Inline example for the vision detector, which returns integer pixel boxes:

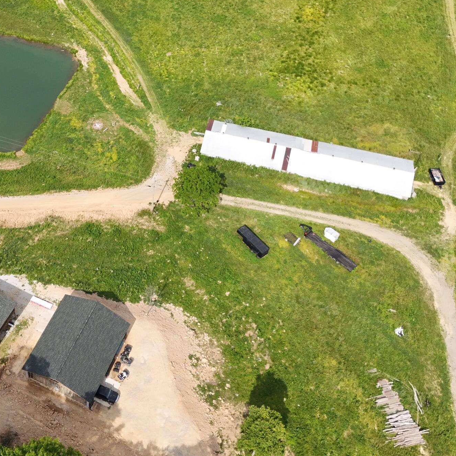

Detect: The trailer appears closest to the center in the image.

[235,224,271,260]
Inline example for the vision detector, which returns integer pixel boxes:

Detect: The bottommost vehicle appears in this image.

[94,383,126,408]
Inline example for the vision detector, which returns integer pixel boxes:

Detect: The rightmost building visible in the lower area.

[22,295,130,407]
